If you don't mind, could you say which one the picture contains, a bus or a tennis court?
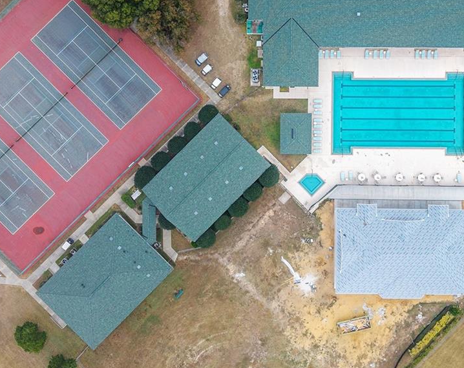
tennis court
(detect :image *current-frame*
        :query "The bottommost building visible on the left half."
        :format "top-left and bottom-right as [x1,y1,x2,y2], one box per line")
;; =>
[36,213,174,350]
